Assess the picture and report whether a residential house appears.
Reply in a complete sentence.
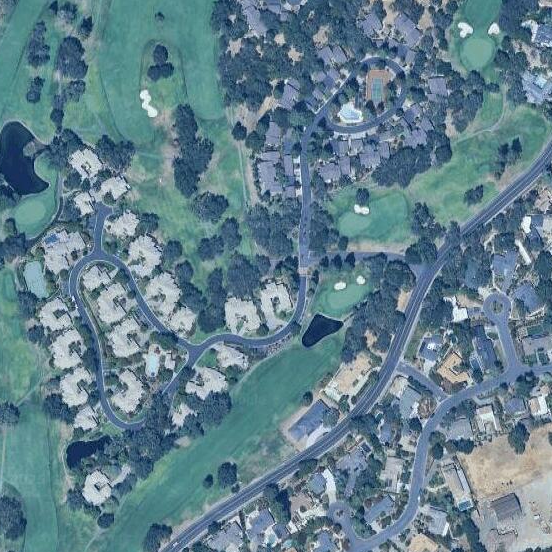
Yes, a residential house is visible in the scene.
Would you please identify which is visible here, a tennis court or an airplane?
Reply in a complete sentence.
I can see a tennis court in this picture.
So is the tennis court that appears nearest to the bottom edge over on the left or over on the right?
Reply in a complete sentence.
The tennis court that appears nearest to the bottom edge is on the left side of the image.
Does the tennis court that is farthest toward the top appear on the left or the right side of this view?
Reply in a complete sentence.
The tennis court that is farthest toward the top appears in the right half of the scene.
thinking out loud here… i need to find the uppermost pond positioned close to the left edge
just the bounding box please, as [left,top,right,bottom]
[0,121,49,197]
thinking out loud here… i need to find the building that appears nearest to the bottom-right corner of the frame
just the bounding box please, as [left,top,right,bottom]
[490,493,523,522]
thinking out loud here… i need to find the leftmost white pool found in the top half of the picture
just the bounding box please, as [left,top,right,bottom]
[339,103,362,123]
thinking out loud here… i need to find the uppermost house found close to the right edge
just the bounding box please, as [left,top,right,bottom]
[534,23,552,45]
